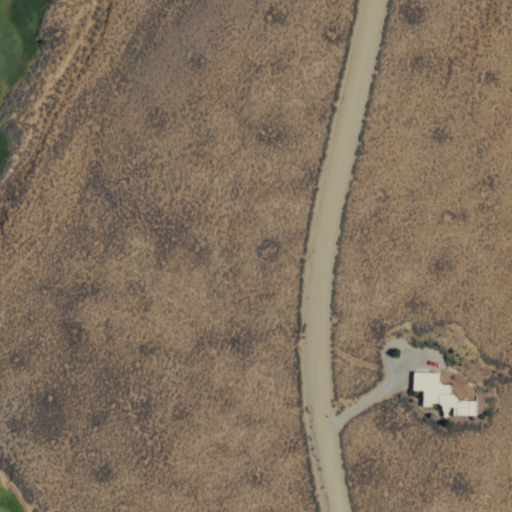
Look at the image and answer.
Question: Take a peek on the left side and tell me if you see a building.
No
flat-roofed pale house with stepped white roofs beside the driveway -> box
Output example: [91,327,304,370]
[414,372,478,418]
